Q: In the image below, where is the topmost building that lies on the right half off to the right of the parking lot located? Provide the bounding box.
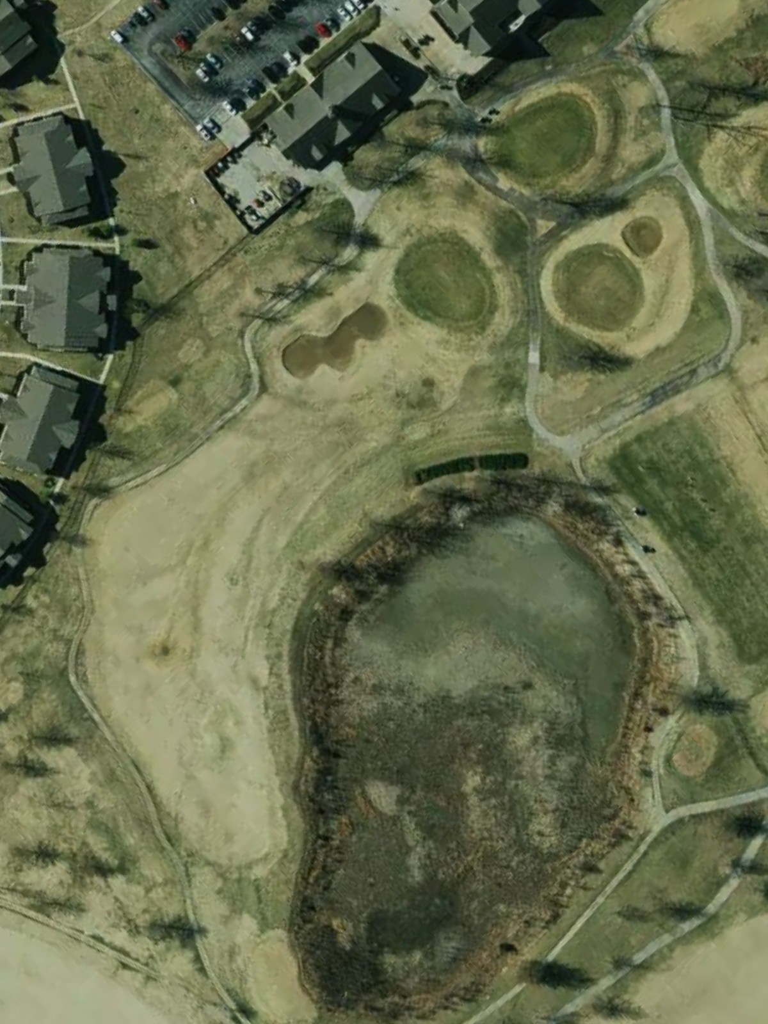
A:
[430,0,550,59]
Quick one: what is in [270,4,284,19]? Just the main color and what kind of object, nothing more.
black car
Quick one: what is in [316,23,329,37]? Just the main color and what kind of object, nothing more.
red vehicle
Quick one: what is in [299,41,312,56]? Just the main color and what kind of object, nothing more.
black vehicle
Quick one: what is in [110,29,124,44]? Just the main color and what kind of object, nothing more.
white car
